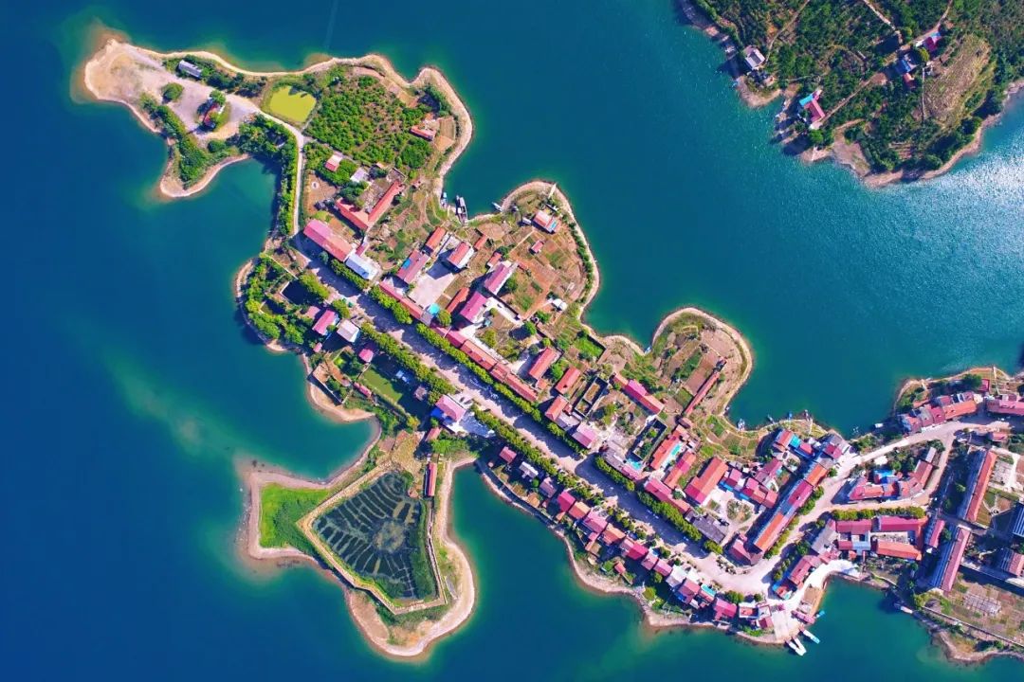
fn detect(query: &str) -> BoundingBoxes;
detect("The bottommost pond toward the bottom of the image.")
[298,462,447,615]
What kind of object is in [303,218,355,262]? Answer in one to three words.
building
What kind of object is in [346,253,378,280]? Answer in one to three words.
building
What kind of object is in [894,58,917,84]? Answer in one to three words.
house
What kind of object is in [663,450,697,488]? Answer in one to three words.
house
